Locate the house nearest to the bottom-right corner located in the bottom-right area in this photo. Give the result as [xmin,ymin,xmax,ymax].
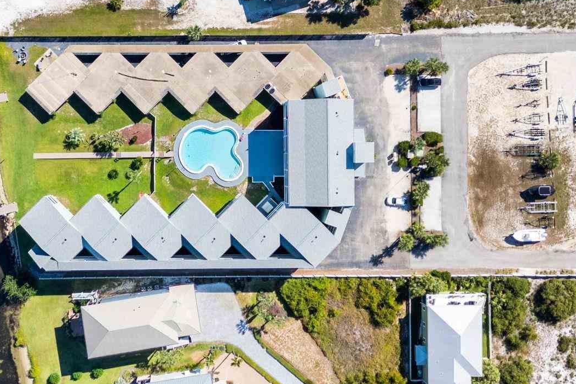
[415,289,488,384]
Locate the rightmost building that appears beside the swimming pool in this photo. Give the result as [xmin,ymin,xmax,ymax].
[283,98,375,210]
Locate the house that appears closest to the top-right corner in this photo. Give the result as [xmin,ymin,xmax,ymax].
[319,74,354,98]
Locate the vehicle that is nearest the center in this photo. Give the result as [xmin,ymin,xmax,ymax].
[387,196,411,208]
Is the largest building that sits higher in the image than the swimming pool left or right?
left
